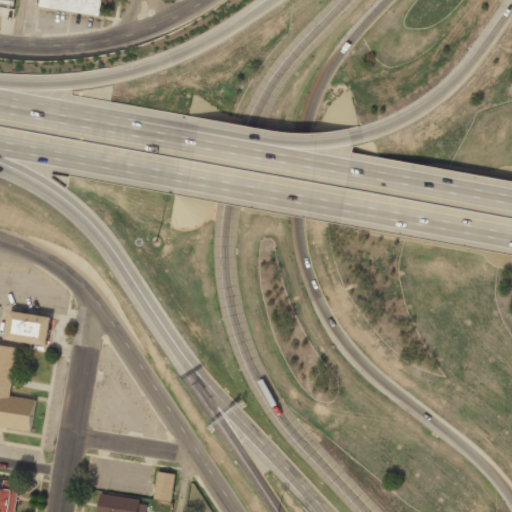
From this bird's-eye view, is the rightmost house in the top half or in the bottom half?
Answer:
bottom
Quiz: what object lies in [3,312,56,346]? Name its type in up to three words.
building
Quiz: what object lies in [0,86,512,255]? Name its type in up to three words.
overpass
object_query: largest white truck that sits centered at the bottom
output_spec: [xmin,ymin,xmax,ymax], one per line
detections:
[260,382,282,416]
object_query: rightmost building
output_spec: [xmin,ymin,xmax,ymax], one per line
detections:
[154,471,176,506]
